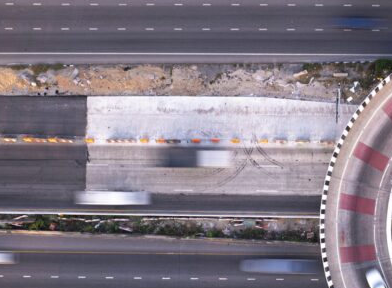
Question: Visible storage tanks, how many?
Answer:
0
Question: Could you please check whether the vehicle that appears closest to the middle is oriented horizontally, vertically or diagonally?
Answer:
horizontally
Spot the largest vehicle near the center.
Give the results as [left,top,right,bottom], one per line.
[161,147,229,167]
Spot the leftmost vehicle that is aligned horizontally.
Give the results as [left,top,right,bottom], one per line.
[87,190,136,206]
